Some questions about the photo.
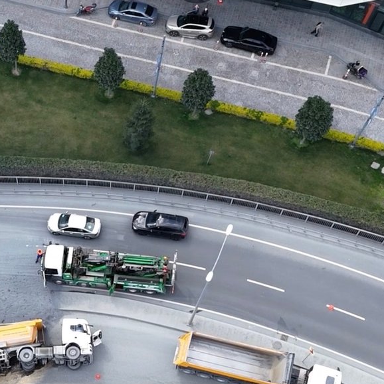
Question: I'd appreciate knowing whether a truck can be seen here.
Yes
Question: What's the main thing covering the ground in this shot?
paved ground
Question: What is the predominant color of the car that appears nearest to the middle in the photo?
black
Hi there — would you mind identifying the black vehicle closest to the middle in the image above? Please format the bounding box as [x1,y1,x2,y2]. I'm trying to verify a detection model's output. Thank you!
[132,212,188,241]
